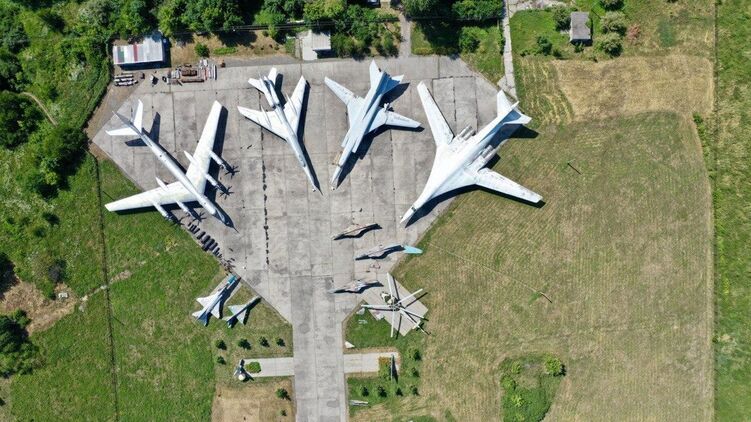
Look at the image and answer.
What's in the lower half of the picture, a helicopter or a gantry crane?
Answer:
helicopter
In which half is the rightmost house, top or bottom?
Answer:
top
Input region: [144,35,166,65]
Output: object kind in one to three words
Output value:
building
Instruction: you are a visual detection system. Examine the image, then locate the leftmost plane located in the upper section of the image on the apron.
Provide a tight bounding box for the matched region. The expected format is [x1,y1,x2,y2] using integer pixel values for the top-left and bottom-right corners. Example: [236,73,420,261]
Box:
[105,99,238,233]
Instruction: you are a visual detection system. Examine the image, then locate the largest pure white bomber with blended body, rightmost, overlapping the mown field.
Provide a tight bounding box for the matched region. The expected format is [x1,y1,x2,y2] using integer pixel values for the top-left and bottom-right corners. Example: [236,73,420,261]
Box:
[400,80,541,223]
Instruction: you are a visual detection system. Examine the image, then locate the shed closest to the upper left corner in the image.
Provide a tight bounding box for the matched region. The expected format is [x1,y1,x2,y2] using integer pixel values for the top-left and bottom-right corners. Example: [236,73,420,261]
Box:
[113,45,148,65]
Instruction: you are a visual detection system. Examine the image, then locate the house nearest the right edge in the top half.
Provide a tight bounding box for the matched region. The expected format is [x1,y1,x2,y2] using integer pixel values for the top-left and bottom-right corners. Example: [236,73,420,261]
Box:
[569,12,590,41]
